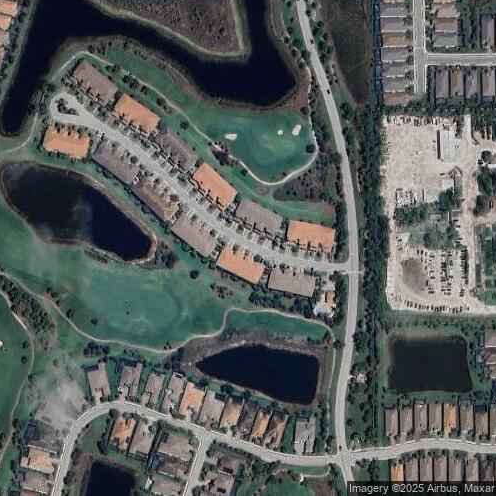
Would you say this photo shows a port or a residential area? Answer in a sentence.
It's a residential area.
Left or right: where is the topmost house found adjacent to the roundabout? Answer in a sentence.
You can find the topmost house found adjacent to the roundabout on the left side of the picture.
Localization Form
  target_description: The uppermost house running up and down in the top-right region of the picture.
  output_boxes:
[481,15,495,47]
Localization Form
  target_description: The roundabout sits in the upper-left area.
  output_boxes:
[51,93,105,132]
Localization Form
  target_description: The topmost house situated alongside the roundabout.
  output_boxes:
[71,61,120,103]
